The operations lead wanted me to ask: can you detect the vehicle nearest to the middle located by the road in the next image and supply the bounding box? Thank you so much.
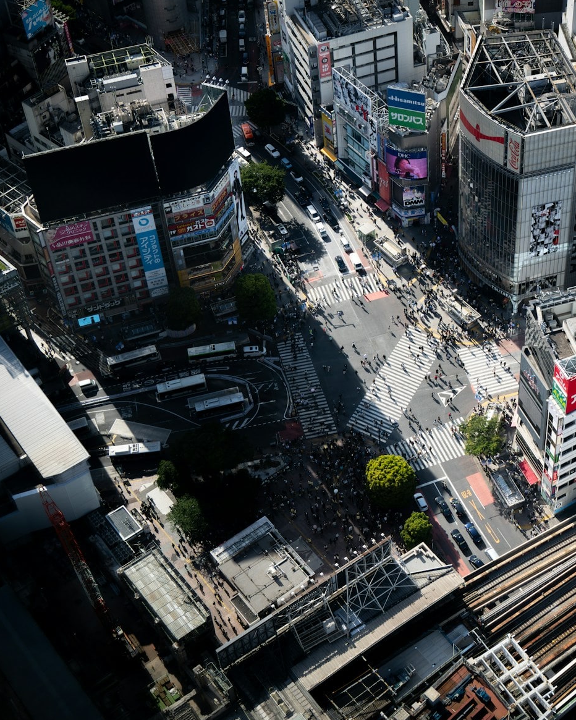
[242,344,266,357]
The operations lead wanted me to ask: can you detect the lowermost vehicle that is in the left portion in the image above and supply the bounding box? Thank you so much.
[103,446,161,471]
